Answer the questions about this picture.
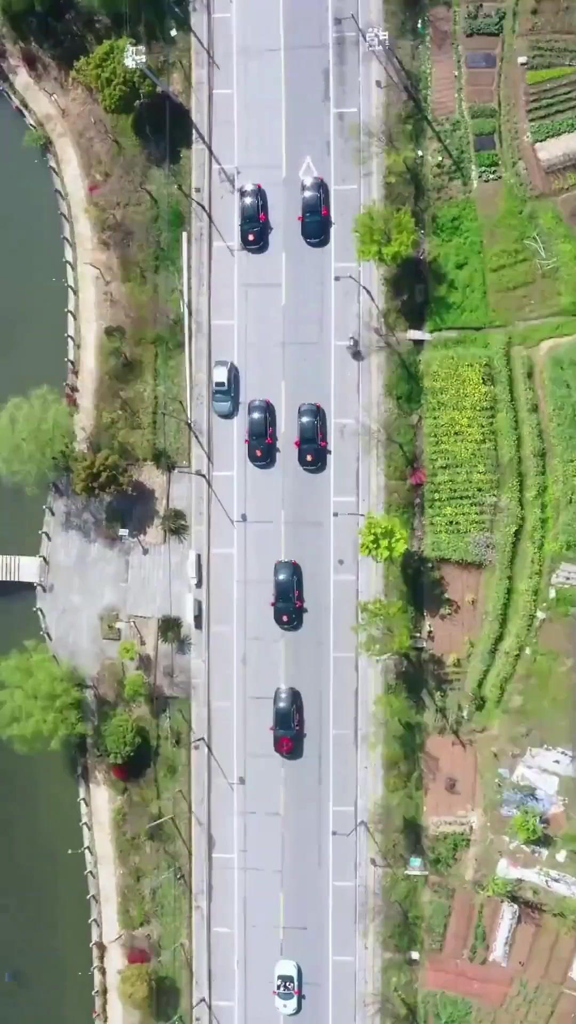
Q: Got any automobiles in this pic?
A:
Yes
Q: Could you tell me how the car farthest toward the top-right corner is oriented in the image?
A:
from top to bottom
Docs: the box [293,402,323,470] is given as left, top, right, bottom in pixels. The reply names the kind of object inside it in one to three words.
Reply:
car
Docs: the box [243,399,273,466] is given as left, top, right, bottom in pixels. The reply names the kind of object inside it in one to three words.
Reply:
car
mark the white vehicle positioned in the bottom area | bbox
[271,958,300,1015]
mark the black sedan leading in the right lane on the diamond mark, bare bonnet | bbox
[296,176,326,242]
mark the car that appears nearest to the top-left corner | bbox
[236,182,265,249]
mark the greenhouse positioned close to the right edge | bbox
[533,131,576,173]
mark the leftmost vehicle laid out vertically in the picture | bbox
[210,361,238,418]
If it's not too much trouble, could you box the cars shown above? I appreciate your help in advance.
[210,361,238,418]
[271,958,300,1015]
[269,560,299,628]
[243,399,273,466]
[269,687,299,756]
[296,176,326,242]
[236,182,265,249]
[293,402,323,470]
